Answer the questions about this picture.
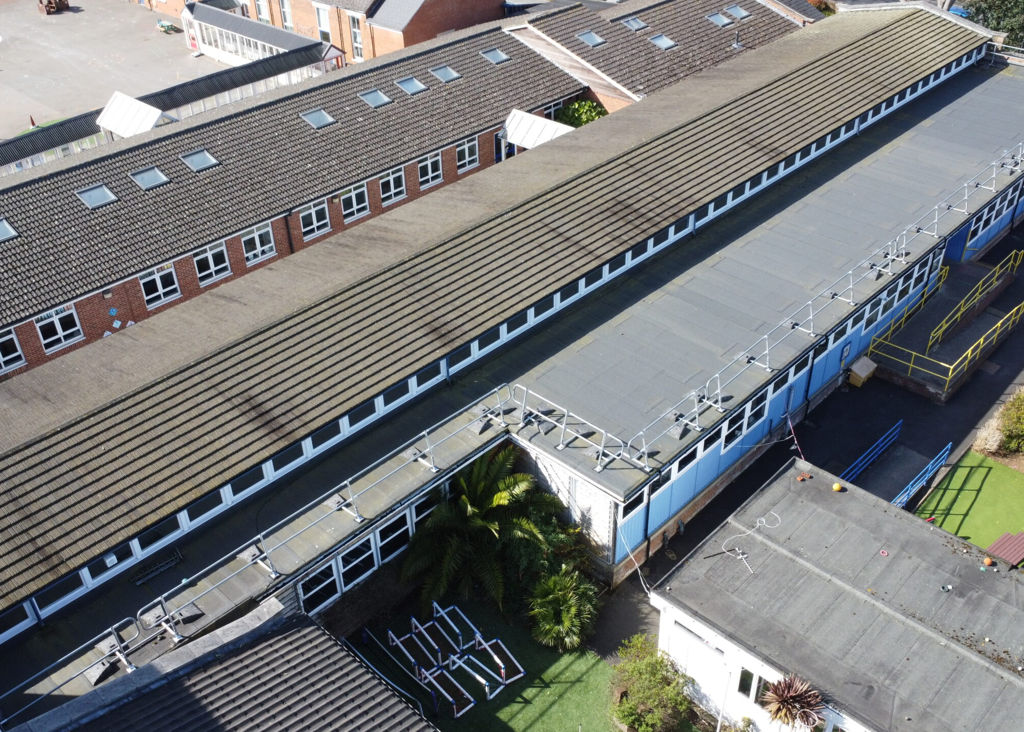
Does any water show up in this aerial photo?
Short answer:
No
